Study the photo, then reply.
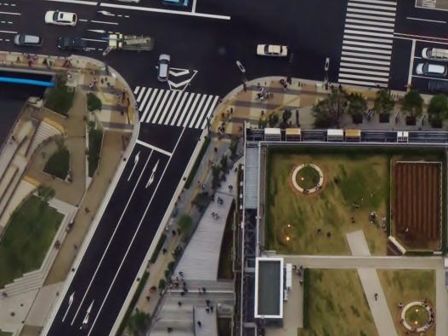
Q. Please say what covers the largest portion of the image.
paved ground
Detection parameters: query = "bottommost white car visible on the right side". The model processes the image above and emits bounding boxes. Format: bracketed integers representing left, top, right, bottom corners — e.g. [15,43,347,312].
[417,63,446,78]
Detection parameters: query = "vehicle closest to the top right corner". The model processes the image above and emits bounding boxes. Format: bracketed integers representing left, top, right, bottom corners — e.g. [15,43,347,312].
[422,45,448,60]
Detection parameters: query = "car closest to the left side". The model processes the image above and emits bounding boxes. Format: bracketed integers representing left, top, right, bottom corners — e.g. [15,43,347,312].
[14,32,43,47]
